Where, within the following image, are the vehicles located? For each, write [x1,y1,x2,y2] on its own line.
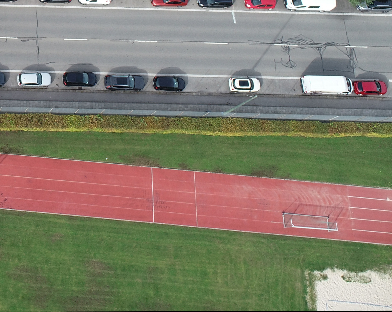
[39,0,72,5]
[152,75,185,93]
[358,0,392,15]
[17,72,51,90]
[78,0,113,6]
[197,0,233,10]
[244,0,277,11]
[285,0,338,13]
[63,71,96,89]
[150,0,188,9]
[351,79,387,97]
[227,77,261,94]
[300,75,351,96]
[105,74,146,92]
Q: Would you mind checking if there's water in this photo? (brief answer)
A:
No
